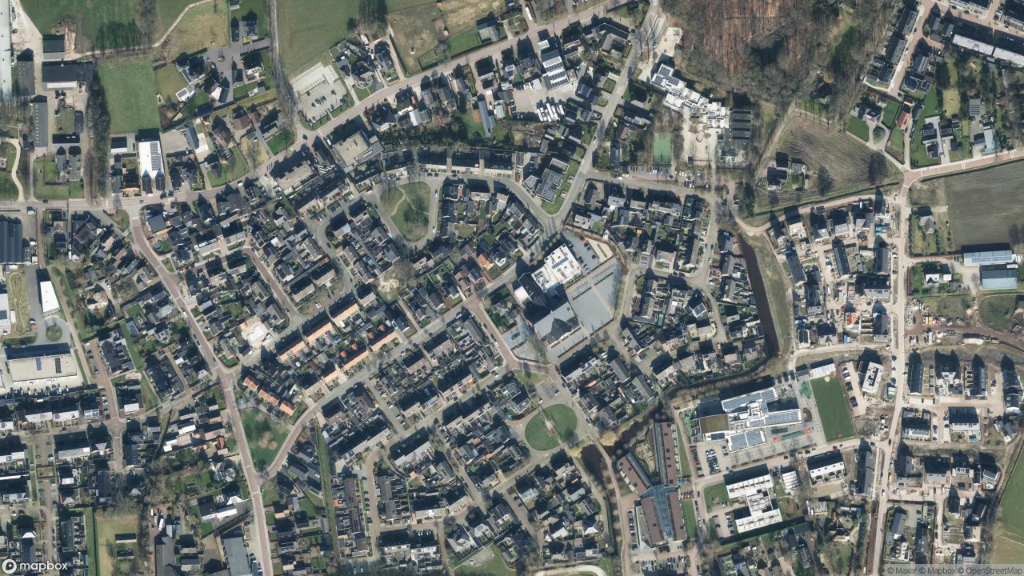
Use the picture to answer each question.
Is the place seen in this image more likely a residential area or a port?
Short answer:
residential area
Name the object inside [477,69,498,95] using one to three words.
house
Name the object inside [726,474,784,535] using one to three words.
building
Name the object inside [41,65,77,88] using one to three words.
barn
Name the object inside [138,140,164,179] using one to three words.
building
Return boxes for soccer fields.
[811,376,854,441]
